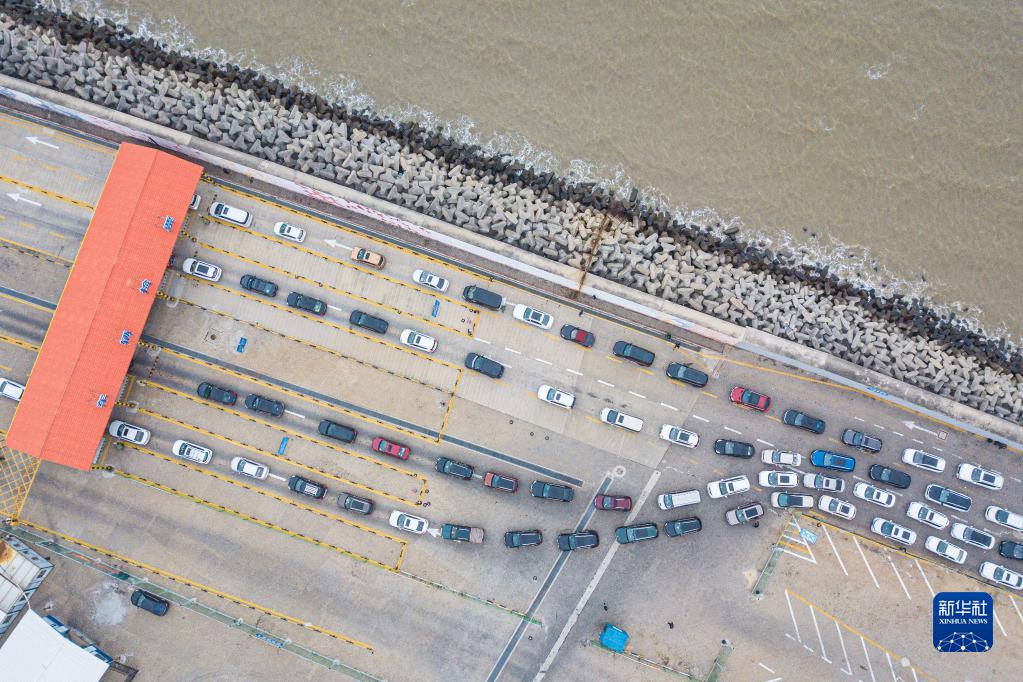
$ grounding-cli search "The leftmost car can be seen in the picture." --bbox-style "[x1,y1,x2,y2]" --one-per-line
[0,375,28,401]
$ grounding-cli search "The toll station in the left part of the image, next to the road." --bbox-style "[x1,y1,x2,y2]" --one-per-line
[6,142,206,470]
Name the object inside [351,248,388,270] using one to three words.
car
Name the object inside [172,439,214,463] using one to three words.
car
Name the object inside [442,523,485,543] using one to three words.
vehicle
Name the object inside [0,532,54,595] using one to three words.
building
